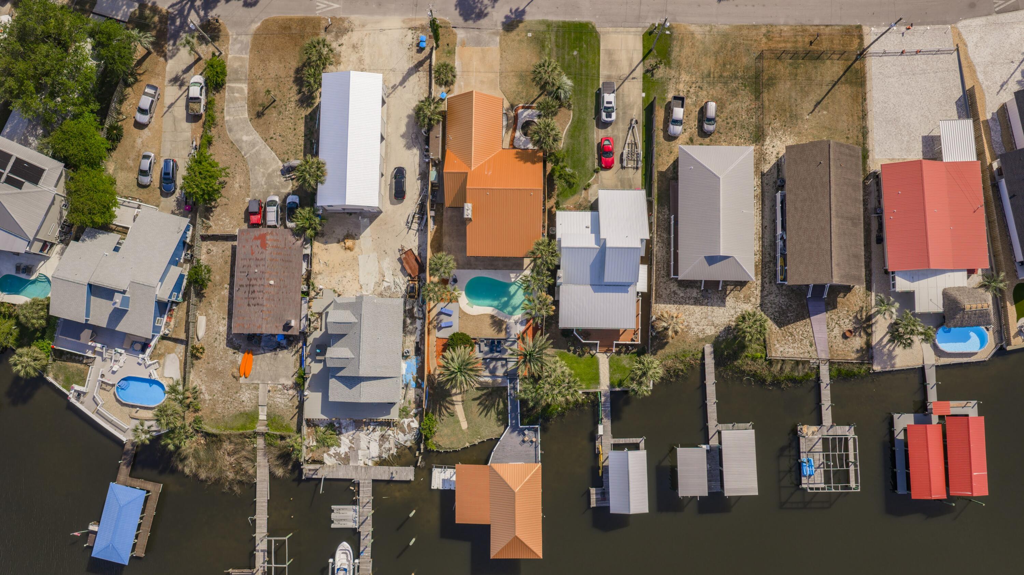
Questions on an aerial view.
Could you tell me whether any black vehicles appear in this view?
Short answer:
Yes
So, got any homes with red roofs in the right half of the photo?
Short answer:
Yes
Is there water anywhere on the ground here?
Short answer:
Yes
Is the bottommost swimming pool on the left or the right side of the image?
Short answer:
left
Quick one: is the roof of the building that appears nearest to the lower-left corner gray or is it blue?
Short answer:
blue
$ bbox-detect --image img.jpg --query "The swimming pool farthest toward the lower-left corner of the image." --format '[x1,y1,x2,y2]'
[115,372,171,407]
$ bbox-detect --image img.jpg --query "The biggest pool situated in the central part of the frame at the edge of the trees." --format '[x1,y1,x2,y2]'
[462,274,533,318]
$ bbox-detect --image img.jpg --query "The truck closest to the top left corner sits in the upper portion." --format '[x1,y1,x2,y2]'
[137,84,163,125]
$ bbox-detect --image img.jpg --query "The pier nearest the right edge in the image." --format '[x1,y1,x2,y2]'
[889,364,982,494]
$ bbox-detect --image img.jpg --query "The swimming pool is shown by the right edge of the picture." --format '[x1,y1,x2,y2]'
[930,324,990,354]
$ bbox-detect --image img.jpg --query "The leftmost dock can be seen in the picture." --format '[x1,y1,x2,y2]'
[114,440,166,557]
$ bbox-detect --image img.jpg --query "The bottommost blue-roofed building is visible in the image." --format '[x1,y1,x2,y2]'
[83,482,155,566]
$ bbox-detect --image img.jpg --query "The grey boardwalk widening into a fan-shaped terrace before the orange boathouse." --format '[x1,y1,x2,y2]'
[489,377,542,464]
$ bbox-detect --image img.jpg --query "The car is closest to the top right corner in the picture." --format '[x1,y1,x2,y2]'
[701,102,717,134]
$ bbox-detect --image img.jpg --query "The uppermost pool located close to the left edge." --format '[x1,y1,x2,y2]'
[0,271,52,300]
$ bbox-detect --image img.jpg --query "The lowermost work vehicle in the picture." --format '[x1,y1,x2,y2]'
[407,276,421,301]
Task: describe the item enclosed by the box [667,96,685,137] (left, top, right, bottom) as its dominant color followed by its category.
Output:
gray vehicle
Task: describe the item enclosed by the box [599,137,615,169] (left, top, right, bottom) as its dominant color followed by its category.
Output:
red car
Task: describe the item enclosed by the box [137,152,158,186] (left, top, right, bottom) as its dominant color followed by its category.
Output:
gray car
